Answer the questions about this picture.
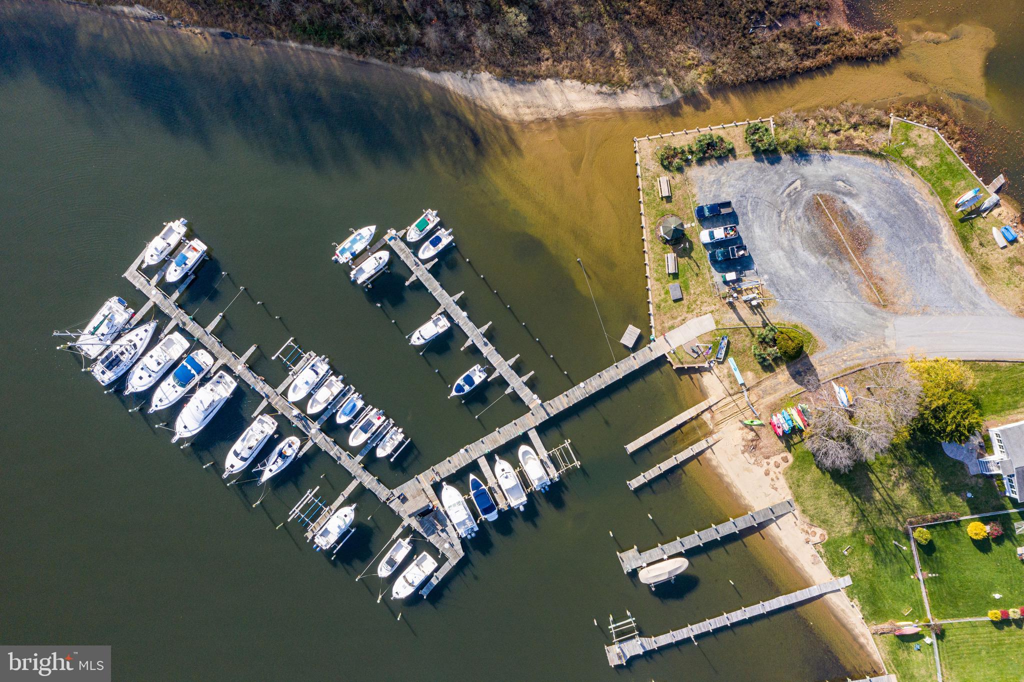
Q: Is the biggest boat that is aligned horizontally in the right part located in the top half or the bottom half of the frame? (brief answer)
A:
bottom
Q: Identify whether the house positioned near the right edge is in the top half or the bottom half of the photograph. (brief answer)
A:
bottom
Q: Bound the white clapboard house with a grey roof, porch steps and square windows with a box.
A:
[972,420,1024,502]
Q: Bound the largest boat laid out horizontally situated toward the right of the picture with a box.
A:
[636,557,689,583]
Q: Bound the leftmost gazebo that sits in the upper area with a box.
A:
[655,215,683,242]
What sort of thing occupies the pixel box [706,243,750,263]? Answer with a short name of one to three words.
vehicle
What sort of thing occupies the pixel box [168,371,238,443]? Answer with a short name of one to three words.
boat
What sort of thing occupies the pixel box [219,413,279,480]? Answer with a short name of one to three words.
boat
